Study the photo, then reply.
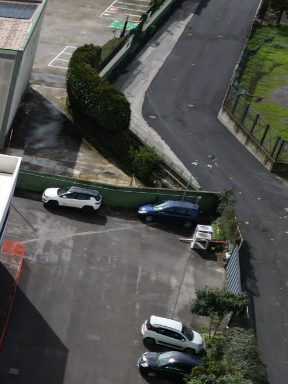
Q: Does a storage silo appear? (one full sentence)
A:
No, the scene contains no storage silo.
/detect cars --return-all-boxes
[140,350,213,384]
[45,188,104,216]
[140,313,204,355]
[140,200,204,229]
